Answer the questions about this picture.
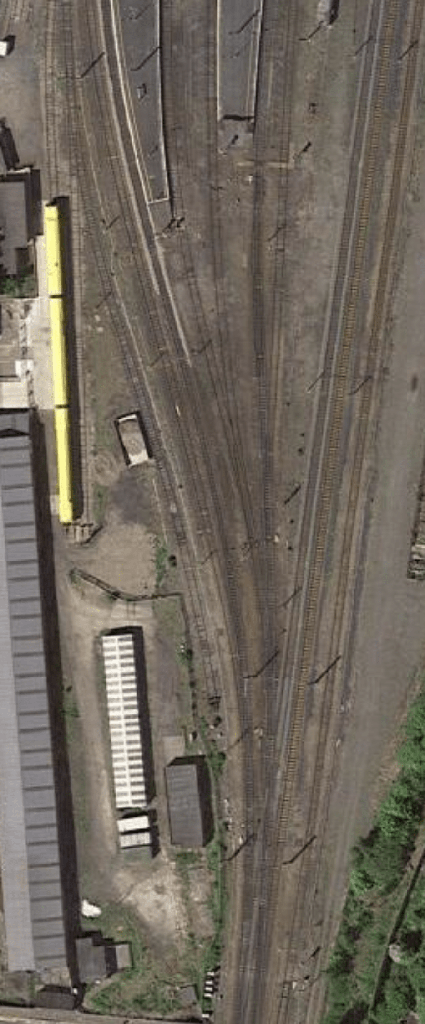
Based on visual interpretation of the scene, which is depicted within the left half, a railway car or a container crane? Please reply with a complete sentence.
There is a railway car within the left half.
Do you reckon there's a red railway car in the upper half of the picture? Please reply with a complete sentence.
No, no red railway car can be made out in the upper half of the picture.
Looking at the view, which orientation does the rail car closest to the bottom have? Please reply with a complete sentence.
The rail car closest to the bottom is laid out from top to bottom.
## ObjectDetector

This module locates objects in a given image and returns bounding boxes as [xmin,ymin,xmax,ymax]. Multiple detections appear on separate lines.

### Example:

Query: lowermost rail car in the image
[55,407,75,523]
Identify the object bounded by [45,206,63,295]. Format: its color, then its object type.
yellow rail car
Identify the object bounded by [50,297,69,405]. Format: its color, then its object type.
yellow rail car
